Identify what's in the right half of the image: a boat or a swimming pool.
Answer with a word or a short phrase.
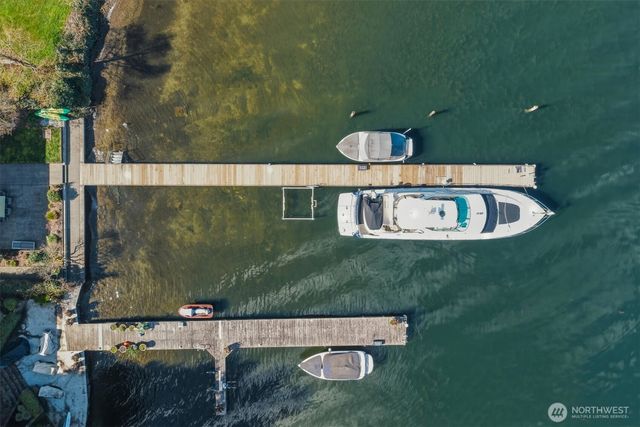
boat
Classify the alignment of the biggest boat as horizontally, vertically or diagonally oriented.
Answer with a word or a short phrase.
horizontally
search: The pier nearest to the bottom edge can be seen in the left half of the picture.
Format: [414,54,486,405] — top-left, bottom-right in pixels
[63,312,408,416]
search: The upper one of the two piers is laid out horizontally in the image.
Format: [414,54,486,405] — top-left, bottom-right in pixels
[81,162,537,189]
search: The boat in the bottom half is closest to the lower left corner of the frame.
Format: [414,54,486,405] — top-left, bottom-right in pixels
[178,304,214,318]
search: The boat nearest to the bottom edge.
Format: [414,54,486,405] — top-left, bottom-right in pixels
[297,350,374,381]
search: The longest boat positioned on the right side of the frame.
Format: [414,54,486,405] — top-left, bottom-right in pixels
[338,187,559,240]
